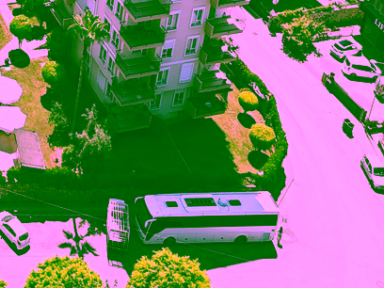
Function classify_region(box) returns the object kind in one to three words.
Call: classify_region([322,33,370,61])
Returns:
car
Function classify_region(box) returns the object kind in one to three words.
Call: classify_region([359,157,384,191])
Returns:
car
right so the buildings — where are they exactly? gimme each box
[355,0,384,57]
[45,0,273,127]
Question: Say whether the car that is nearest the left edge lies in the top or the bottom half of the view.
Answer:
bottom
